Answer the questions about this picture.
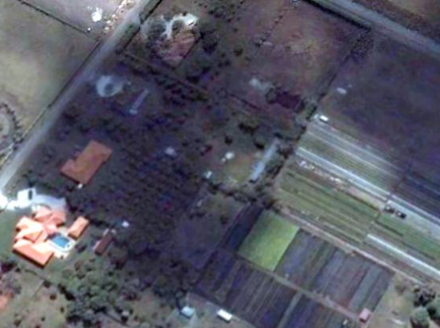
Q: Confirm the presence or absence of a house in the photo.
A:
Yes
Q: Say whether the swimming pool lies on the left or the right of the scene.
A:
left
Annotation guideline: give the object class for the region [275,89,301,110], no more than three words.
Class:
house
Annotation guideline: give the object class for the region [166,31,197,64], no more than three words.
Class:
house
